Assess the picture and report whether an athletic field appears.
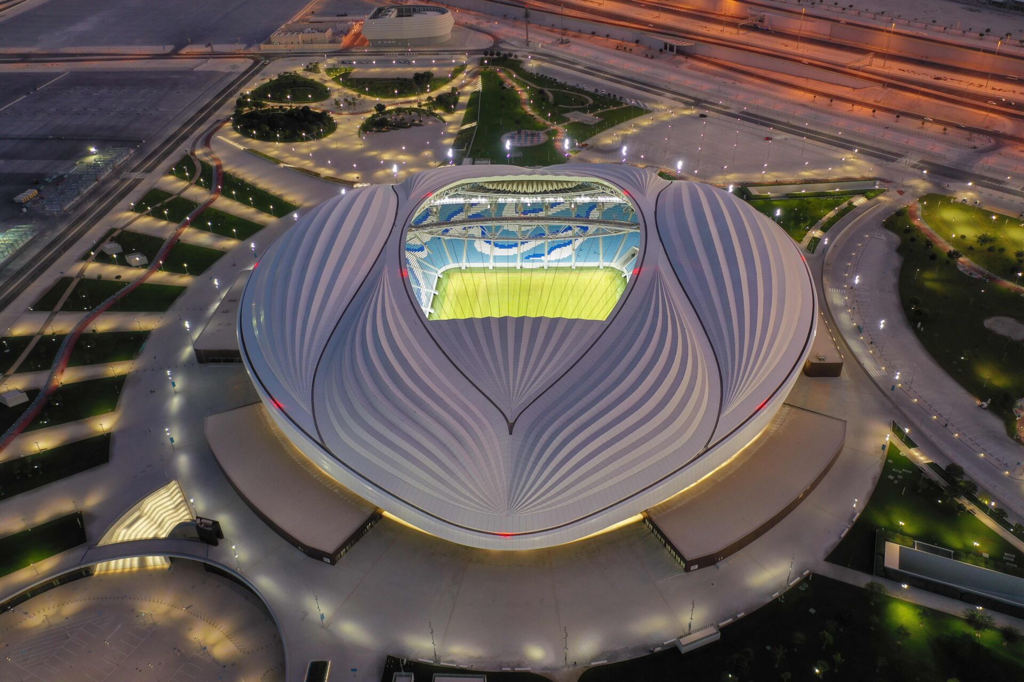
Yes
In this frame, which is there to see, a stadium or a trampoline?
stadium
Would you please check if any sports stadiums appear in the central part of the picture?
Yes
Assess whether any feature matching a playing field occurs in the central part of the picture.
Yes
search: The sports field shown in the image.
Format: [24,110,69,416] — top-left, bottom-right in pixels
[441,275,614,328]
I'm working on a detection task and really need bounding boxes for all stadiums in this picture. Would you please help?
[237,160,819,550]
